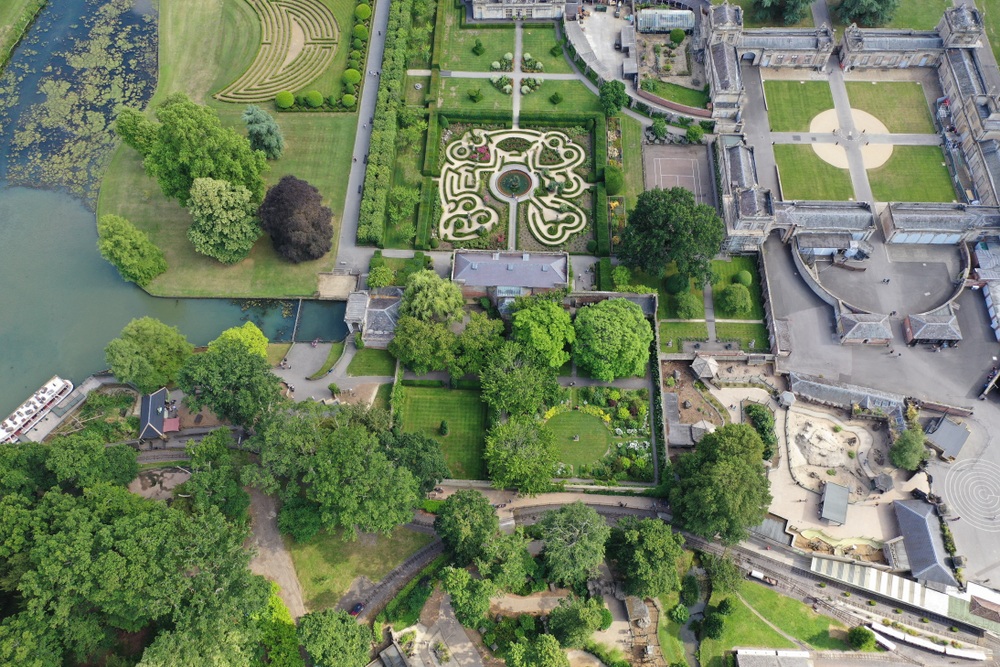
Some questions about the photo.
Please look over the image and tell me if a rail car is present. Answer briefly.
Yes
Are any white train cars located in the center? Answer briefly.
No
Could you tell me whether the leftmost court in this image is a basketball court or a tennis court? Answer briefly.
tennis court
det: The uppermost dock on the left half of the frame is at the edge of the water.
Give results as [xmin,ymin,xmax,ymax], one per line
[26,377,102,440]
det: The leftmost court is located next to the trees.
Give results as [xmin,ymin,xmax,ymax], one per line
[644,145,718,213]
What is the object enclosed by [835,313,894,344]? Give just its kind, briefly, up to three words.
building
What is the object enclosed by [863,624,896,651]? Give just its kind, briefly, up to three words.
rail car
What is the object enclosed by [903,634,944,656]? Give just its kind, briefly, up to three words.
rail car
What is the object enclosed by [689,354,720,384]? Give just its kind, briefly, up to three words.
shed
